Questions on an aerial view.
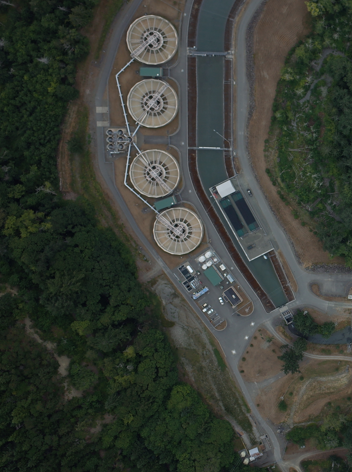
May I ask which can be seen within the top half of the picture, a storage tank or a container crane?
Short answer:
storage tank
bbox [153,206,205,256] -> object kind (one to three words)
storage tank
